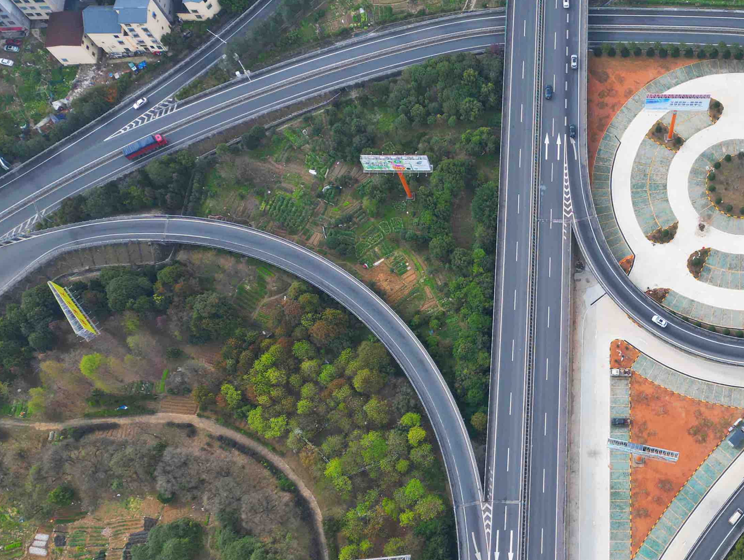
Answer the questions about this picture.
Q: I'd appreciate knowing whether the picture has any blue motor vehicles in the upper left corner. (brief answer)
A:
Yes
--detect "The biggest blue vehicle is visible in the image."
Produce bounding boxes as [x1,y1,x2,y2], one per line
[125,131,168,158]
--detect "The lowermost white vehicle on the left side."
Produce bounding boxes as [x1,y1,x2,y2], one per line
[133,96,150,109]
